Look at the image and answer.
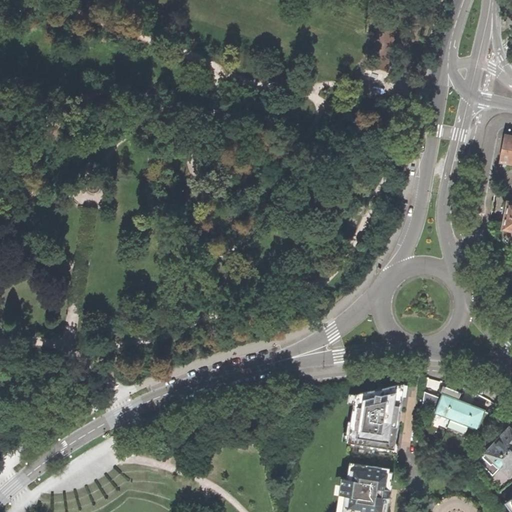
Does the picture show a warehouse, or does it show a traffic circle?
traffic circle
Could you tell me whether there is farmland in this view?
No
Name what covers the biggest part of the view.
trees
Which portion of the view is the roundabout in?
right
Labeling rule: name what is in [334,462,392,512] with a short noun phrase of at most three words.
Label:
house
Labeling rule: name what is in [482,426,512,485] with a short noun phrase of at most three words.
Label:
house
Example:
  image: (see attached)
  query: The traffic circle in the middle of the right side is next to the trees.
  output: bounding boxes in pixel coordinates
[376,260,470,354]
